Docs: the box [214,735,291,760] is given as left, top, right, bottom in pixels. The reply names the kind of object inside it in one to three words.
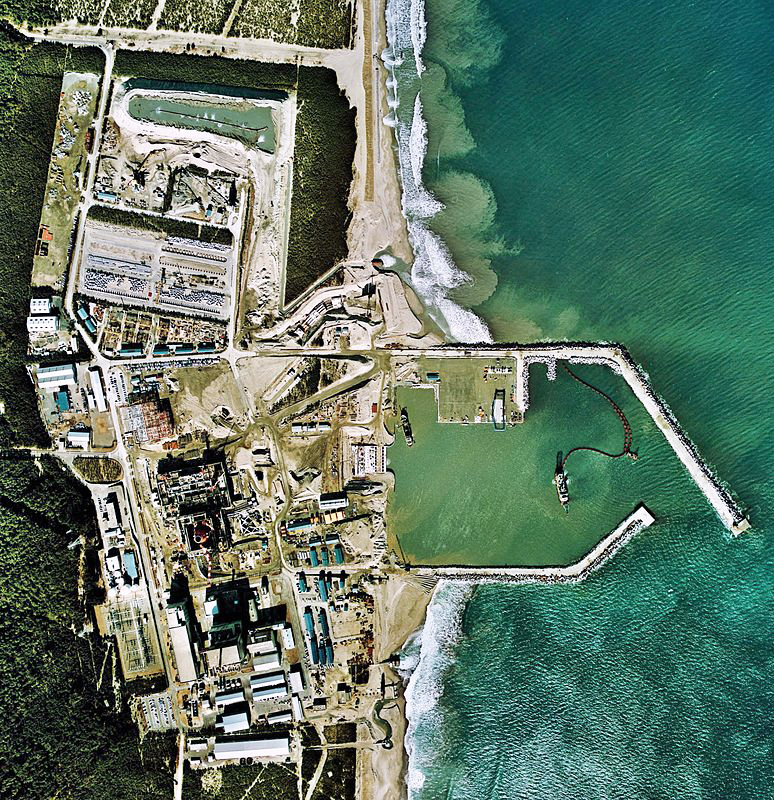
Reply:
building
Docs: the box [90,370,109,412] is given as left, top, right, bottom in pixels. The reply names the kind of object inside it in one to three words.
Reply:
building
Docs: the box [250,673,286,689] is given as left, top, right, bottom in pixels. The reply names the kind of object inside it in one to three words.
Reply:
shed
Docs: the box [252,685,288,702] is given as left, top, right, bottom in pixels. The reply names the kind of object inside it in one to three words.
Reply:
shed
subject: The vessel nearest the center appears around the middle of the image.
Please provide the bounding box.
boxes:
[399,409,412,446]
